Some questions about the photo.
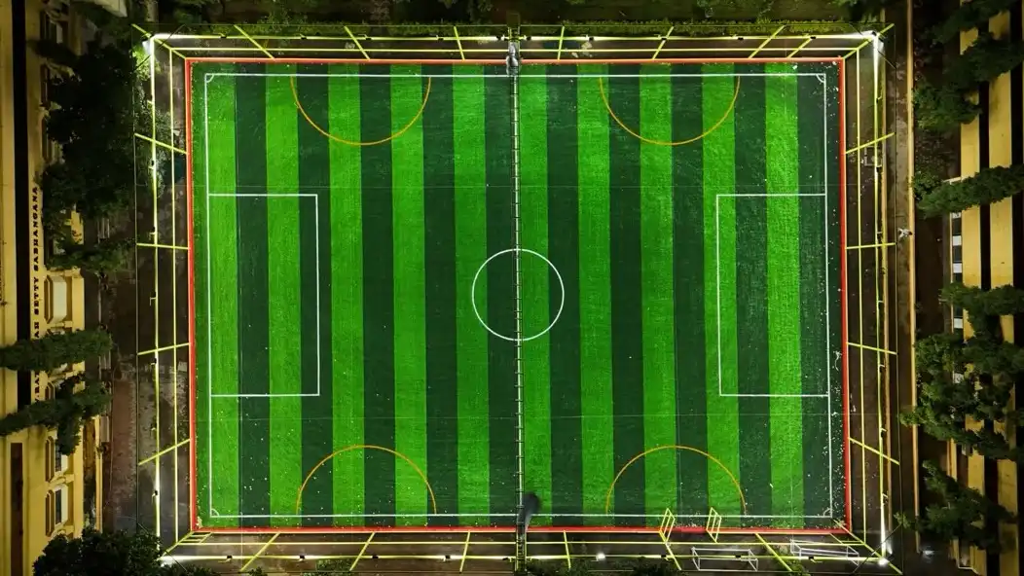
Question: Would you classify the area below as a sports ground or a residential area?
sports ground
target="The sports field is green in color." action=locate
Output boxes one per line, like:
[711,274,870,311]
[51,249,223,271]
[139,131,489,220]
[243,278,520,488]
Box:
[192,63,844,527]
